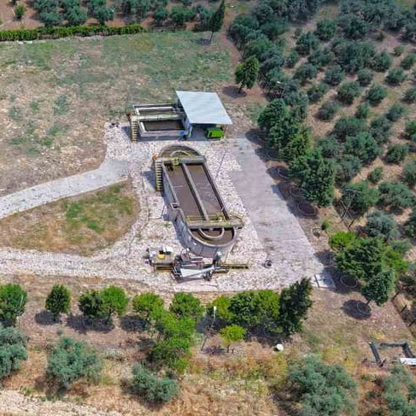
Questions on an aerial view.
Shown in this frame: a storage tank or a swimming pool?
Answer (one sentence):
This aerial view contains a storage tank.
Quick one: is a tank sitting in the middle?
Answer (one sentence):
Yes, looking in the middle, one can make out a tank.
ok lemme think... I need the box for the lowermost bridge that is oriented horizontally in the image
[188,213,247,230]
